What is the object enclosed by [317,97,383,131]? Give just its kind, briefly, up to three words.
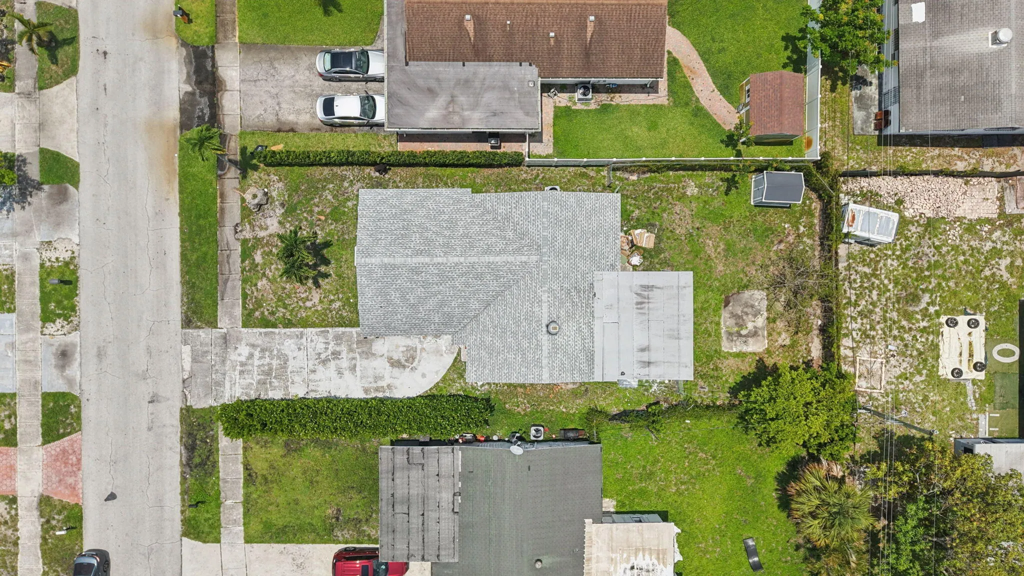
car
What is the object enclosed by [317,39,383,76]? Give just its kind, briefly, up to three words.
car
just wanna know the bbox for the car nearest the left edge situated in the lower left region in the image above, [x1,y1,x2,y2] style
[73,553,111,576]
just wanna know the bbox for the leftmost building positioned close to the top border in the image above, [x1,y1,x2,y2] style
[383,0,669,140]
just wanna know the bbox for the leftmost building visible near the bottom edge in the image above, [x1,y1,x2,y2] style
[379,439,603,576]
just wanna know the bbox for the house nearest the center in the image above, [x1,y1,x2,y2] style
[354,188,694,385]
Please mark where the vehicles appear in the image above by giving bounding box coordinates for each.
[317,39,383,76]
[317,97,383,131]
[828,204,897,246]
[73,553,111,576]
[333,548,408,576]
